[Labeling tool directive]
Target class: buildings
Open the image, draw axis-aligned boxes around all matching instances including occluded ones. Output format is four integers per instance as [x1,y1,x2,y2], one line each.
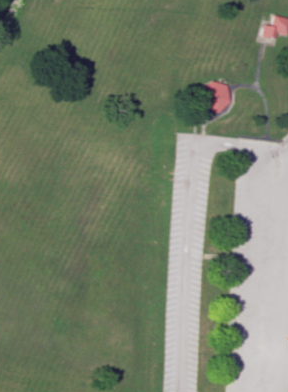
[260,14,288,38]
[203,80,232,114]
